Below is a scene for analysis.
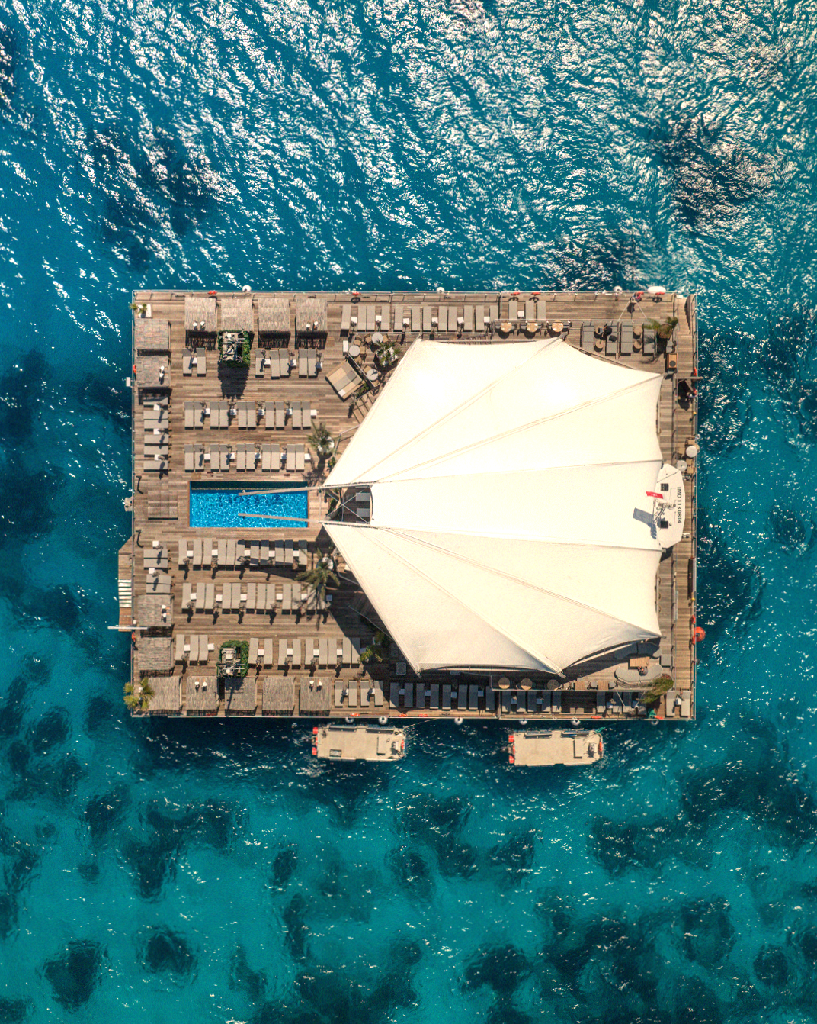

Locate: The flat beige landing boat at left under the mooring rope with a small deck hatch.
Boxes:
[311,723,406,761]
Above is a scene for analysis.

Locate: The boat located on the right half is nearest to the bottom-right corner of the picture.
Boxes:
[505,727,605,765]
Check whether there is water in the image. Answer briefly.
Yes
